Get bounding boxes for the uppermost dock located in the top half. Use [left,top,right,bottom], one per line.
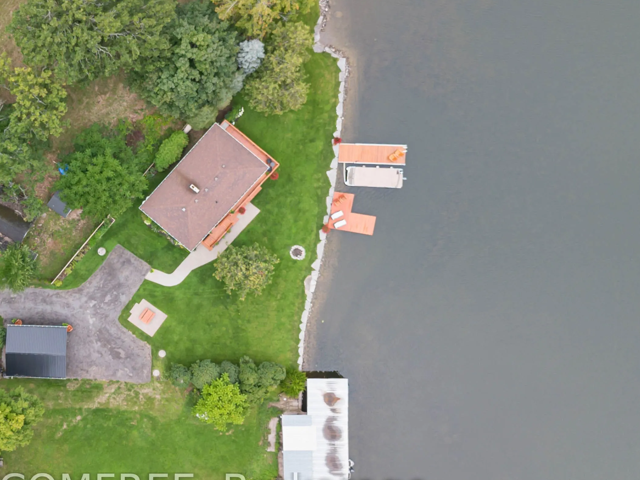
[338,143,408,166]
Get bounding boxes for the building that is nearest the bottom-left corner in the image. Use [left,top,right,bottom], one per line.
[5,324,70,380]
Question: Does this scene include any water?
Yes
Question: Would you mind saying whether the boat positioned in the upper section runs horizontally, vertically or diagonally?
horizontally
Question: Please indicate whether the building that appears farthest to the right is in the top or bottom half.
bottom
